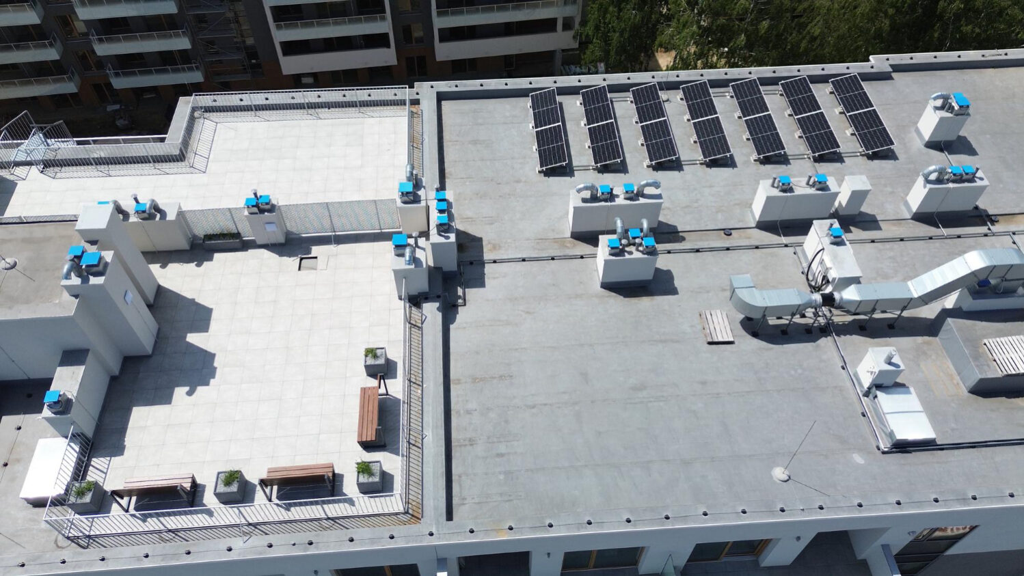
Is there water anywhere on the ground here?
No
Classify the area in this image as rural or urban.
urban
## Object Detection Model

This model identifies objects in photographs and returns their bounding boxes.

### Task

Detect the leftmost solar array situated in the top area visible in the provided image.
[526,85,569,173]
